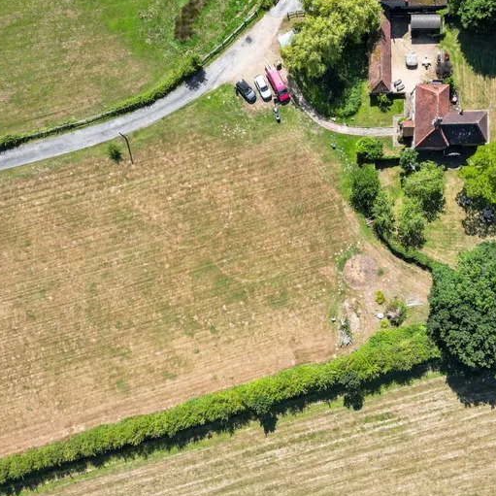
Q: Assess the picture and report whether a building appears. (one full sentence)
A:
Yes, there's a building down there.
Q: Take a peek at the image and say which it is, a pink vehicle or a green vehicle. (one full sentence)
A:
The one in the frame is a pink vehicle.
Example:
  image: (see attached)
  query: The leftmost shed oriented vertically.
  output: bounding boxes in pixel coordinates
[368,7,392,92]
